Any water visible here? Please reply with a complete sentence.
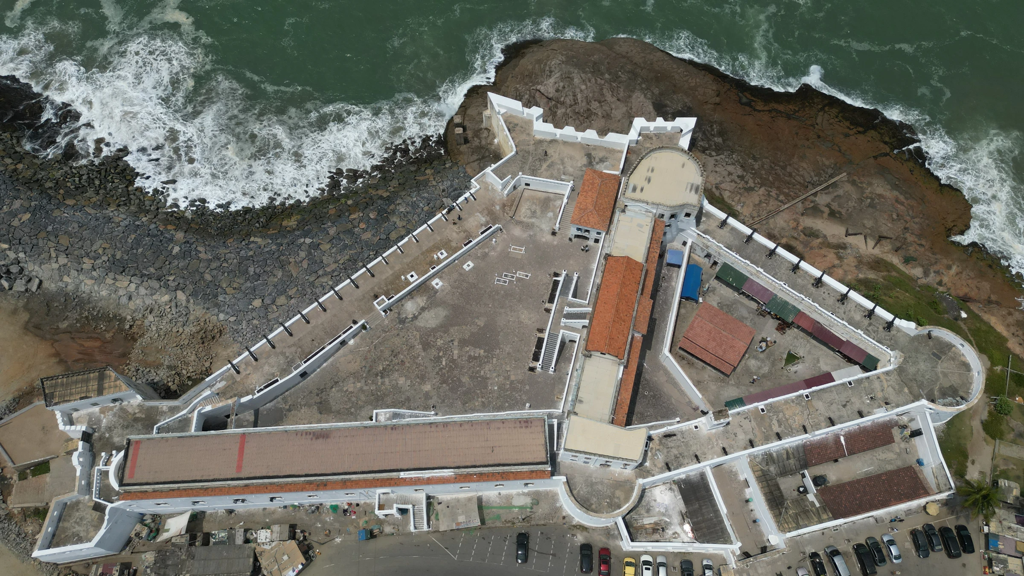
Yes, there's water in this view.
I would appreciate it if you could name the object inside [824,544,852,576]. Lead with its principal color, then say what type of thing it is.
gray car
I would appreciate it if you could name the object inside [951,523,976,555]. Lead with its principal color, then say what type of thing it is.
black car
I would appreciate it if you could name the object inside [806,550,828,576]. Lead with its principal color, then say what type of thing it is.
black car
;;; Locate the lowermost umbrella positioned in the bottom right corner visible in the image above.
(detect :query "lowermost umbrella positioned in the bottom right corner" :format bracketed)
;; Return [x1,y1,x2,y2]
[923,501,940,518]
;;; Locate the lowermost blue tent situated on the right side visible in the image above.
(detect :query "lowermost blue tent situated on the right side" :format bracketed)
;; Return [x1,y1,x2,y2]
[682,264,703,306]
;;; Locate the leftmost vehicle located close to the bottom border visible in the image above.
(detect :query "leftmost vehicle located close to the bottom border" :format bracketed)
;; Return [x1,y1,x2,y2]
[515,532,529,564]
